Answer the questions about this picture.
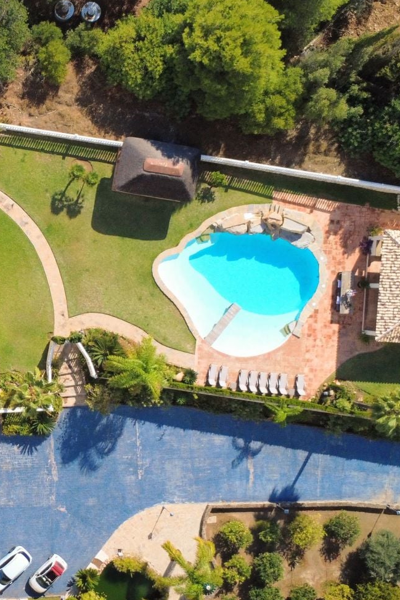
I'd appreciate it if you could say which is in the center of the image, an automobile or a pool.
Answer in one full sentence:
Looking in the center of the image, you will find a pool.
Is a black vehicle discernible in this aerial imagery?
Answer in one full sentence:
No, there appears to be no black vehicle in this shot.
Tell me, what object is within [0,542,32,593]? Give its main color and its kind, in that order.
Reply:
white car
